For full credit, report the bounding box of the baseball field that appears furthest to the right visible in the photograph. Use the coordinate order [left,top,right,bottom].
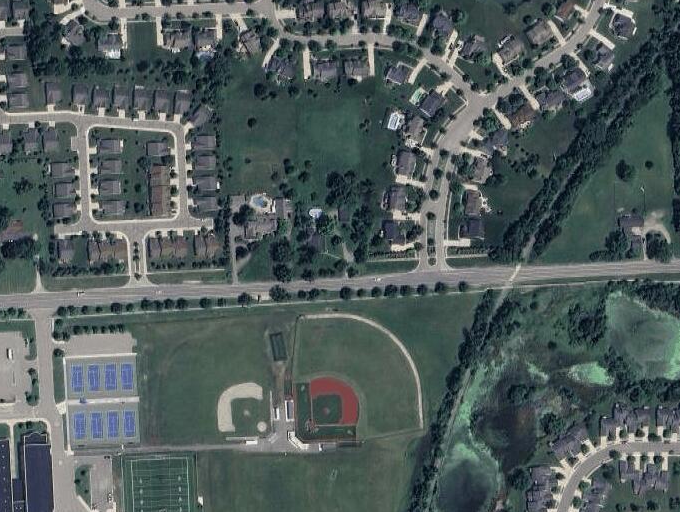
[296,314,424,441]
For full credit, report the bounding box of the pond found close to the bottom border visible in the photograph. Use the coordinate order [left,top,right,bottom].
[442,452,494,512]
